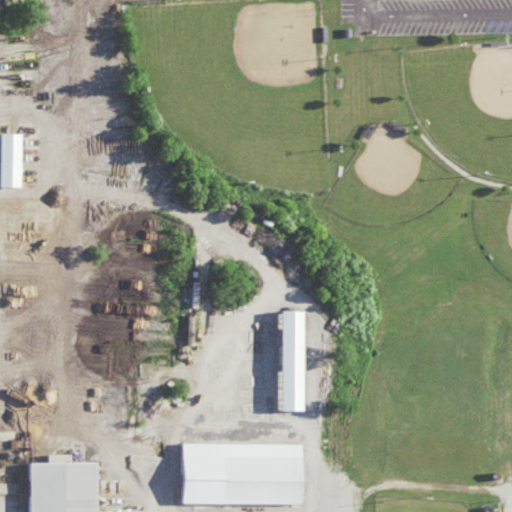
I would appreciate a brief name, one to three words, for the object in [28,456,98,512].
shed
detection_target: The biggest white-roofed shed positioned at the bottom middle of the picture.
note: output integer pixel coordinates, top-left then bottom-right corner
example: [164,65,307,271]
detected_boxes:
[182,444,304,508]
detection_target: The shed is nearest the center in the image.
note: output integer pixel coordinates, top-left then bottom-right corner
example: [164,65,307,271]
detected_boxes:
[278,312,306,413]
